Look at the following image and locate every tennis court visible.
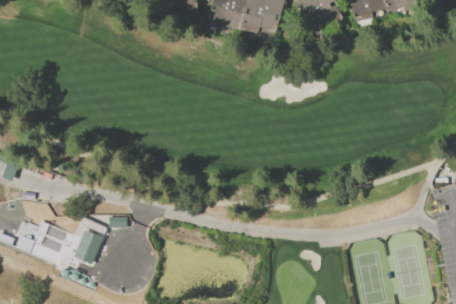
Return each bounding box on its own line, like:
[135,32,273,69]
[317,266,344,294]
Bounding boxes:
[388,232,434,304]
[350,240,396,304]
